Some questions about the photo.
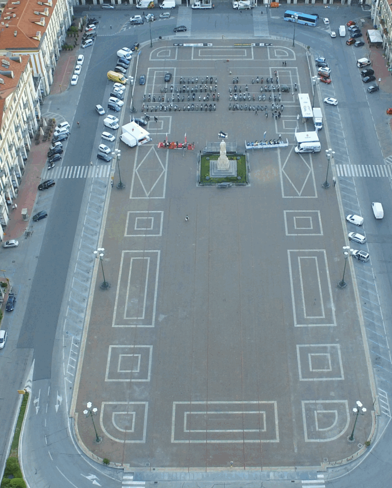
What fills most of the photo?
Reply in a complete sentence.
Most of the picture is covered by paved ground.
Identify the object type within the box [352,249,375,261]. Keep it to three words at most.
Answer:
vehicle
